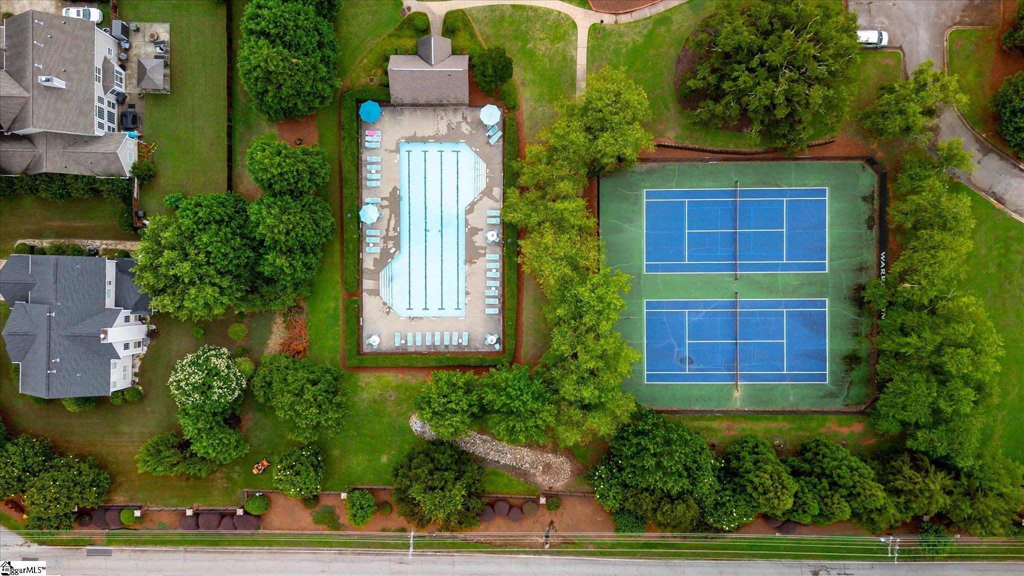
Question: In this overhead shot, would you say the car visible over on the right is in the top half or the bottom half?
top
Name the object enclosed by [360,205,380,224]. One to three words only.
umbrella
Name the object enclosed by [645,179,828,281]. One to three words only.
tennis court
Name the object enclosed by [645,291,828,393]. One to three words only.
tennis court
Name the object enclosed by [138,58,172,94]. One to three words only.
gazebo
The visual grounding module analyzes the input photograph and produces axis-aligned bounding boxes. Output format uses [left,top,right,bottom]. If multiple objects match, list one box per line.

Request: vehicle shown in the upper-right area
[847,29,888,49]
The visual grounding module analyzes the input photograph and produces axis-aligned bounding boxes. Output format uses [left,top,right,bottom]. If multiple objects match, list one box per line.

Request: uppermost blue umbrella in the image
[359,101,382,124]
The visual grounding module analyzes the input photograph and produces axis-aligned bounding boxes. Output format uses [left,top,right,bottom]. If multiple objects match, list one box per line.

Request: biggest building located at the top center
[386,32,469,105]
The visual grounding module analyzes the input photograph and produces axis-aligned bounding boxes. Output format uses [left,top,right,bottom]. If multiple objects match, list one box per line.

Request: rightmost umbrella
[479,105,501,126]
